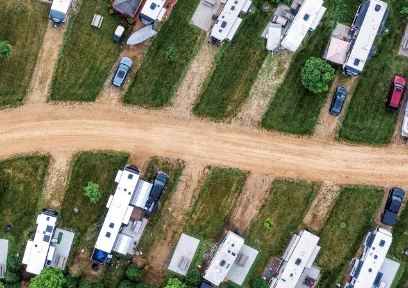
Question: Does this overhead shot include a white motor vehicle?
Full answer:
Yes, you can see a white motor vehicle in this photo.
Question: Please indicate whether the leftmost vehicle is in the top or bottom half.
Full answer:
It is in the bottom half that the leftmost vehicle appears.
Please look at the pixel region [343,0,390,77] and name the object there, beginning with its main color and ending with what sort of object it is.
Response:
white camper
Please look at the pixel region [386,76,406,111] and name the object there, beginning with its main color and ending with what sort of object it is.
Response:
red car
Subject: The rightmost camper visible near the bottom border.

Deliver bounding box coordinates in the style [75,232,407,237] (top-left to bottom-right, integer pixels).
[345,226,392,288]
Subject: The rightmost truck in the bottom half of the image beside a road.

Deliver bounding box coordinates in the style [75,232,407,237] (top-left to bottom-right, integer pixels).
[380,186,405,228]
